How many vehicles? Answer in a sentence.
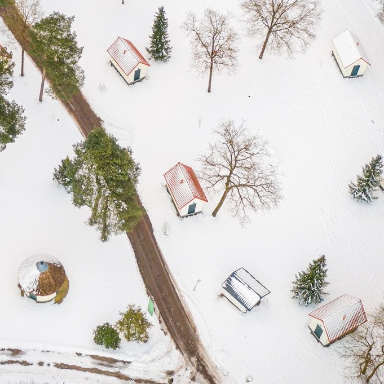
There are no vehicles in the image.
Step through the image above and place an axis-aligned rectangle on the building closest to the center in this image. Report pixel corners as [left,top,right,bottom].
[163,162,208,216]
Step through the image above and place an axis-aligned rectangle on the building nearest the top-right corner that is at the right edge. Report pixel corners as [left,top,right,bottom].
[330,29,371,77]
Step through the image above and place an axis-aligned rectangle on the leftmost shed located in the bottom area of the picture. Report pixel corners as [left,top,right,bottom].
[17,253,71,305]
